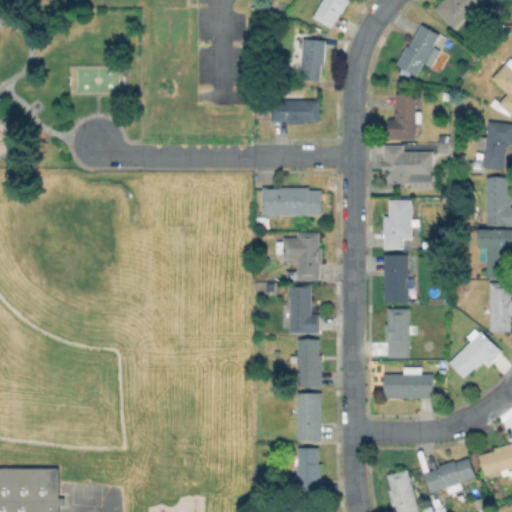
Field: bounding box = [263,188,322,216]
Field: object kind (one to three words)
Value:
house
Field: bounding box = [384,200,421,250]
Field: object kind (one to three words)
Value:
house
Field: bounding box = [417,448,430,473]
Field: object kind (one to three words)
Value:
vehicle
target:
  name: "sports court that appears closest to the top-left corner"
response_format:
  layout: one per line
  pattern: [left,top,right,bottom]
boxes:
[70,66,124,95]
